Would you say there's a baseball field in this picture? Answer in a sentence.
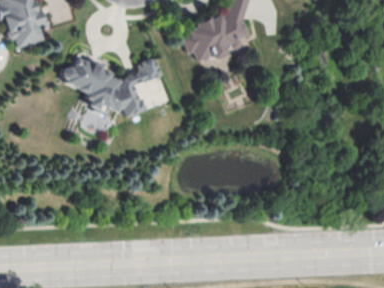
No, I find no baseball field anywhere in the image.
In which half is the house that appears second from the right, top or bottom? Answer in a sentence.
The house that appears second from the right sits in the top half of the picture.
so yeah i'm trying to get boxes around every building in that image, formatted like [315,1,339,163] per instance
[178,0,252,66]
[58,56,166,118]
[0,0,51,51]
